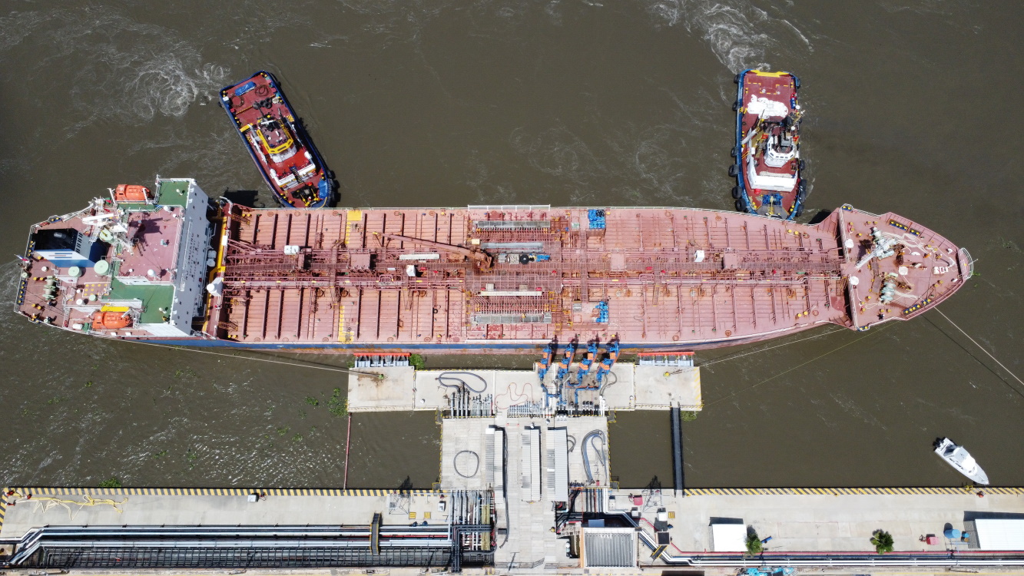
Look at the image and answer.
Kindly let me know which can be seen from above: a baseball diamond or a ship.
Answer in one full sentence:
This aerial view contains a ship.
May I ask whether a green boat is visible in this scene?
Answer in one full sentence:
No, I can see no green boat in this picture.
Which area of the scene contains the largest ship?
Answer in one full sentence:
The largest ship appears toward the center of the photo.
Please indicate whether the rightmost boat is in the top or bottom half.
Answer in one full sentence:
Seen from above, the rightmost boat lies in the bottom half of the view.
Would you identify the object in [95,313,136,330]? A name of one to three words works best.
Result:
boat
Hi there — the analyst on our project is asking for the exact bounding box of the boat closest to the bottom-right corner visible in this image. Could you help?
[930,436,989,487]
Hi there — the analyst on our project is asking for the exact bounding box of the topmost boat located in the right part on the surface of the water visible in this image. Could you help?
[729,69,808,224]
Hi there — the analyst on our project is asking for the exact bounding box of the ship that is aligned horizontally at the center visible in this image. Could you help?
[11,178,979,353]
